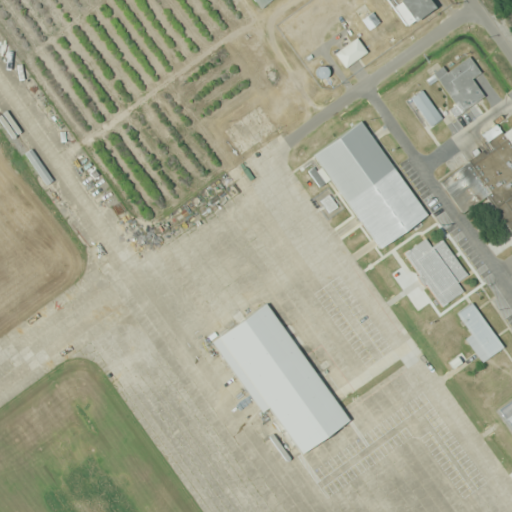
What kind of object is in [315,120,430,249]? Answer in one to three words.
hangar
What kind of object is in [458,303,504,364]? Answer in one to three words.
building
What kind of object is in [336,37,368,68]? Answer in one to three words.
house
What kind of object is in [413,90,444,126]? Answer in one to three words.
building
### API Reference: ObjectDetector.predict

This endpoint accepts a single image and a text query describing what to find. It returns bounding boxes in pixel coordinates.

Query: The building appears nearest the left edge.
[26,148,54,185]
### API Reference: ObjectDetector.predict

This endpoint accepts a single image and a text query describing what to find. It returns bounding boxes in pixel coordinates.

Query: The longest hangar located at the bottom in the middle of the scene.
[214,304,350,454]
